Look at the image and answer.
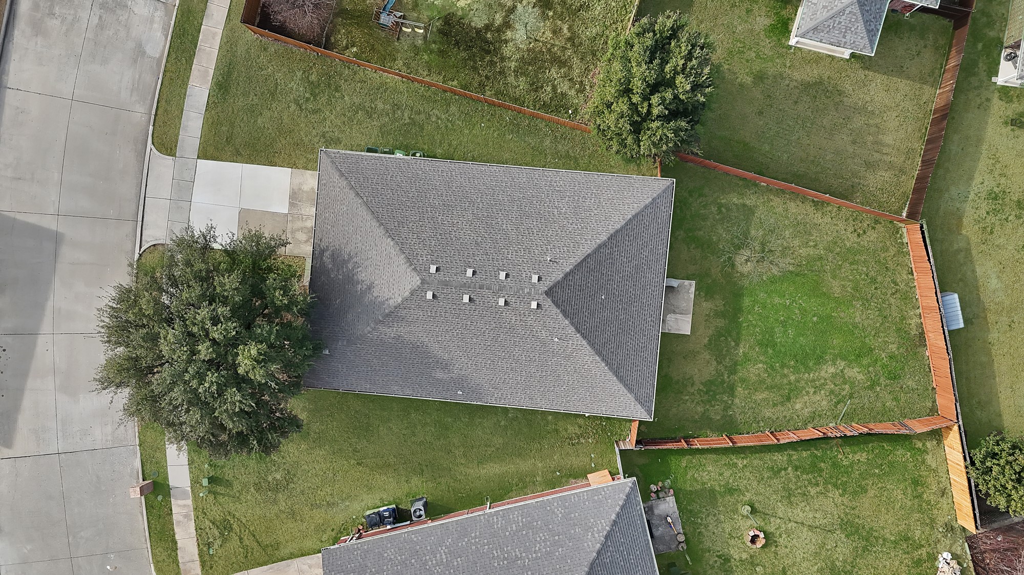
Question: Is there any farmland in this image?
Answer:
No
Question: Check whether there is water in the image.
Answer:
No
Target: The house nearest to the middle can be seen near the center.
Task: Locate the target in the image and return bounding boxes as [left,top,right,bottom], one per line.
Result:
[295,146,678,422]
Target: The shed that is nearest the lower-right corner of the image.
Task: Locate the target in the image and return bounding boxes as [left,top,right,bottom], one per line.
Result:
[940,293,962,330]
